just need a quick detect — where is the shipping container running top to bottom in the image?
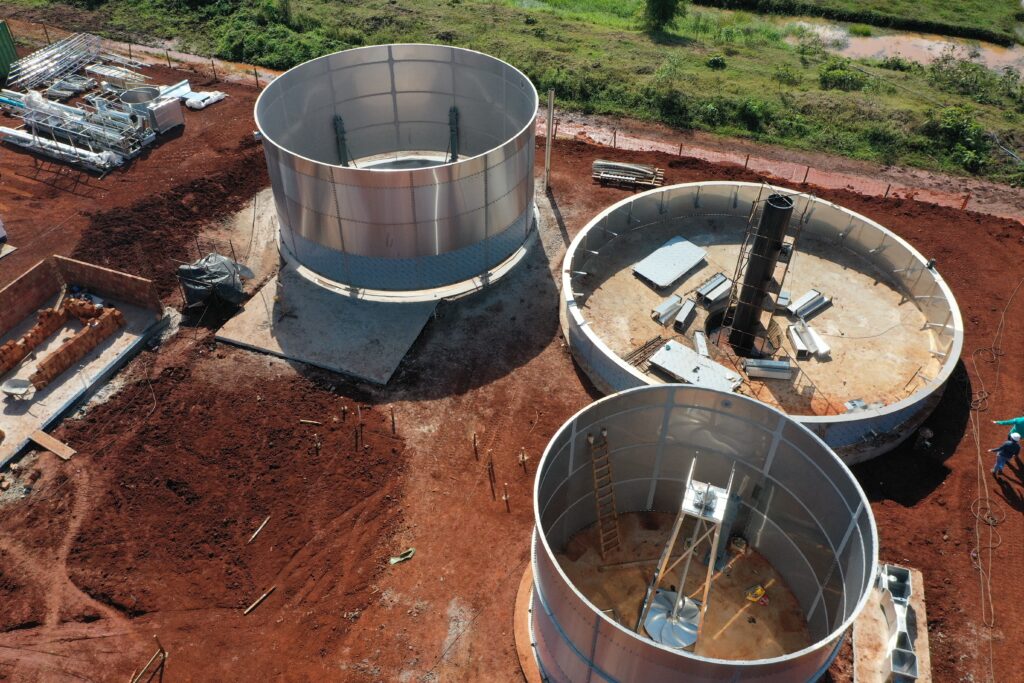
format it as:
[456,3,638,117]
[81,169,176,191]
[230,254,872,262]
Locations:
[0,19,25,77]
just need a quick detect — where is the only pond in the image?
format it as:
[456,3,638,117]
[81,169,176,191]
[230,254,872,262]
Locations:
[755,18,1024,81]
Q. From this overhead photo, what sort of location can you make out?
industrial area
